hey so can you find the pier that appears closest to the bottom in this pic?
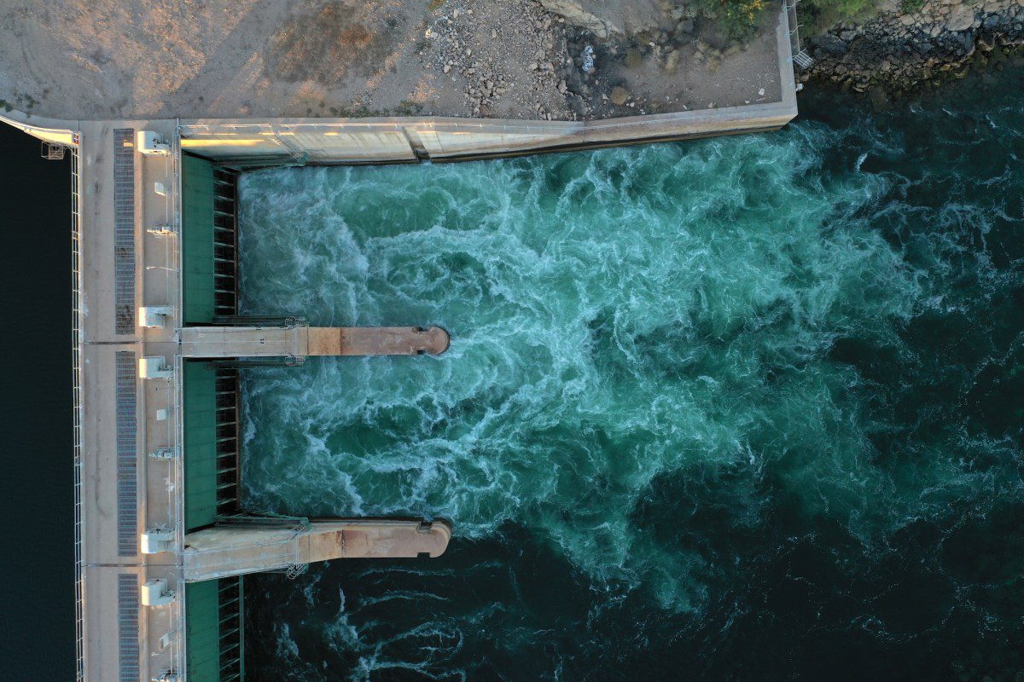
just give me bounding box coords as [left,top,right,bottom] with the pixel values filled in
[184,519,452,581]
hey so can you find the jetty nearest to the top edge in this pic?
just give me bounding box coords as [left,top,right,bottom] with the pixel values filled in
[183,326,452,356]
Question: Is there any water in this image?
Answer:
Yes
